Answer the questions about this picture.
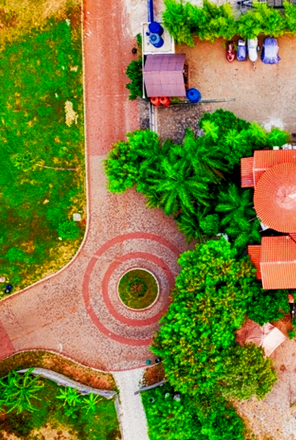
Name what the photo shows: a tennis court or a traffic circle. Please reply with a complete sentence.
Of the two, only a traffic circle appears.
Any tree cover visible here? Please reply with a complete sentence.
Yes, there is tree cover in the image.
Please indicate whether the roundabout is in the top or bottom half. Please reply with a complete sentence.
You can find the roundabout in the bottom half.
